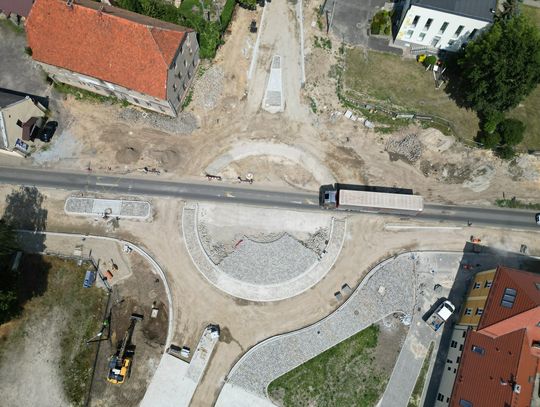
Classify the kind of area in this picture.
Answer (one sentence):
It's a residential area.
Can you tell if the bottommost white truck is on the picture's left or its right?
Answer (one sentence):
You can find the bottommost white truck on the right side of the picture.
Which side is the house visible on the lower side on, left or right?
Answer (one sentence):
It is on the right.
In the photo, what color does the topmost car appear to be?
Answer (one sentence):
From above, the topmost car appears black.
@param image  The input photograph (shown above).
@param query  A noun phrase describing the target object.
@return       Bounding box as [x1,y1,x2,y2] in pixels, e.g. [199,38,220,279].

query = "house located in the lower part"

[431,265,540,407]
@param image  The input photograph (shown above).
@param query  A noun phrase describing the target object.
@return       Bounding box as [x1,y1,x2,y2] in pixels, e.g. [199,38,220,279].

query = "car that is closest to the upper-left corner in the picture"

[40,120,61,142]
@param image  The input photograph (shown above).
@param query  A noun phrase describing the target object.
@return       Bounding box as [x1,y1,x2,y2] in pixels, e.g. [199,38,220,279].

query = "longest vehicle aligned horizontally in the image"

[321,190,424,215]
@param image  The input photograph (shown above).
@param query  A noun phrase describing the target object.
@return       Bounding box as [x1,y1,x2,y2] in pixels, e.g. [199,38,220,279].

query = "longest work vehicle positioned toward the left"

[104,316,140,388]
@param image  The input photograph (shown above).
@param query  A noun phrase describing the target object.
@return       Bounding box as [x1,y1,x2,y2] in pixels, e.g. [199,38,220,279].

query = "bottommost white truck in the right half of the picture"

[426,299,458,332]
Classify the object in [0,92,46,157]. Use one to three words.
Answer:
house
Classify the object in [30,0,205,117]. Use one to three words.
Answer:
house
